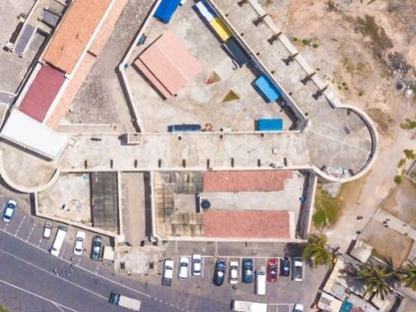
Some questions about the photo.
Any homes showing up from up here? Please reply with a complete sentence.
Yes, a home can be made out from above.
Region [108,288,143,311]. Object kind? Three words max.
truck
